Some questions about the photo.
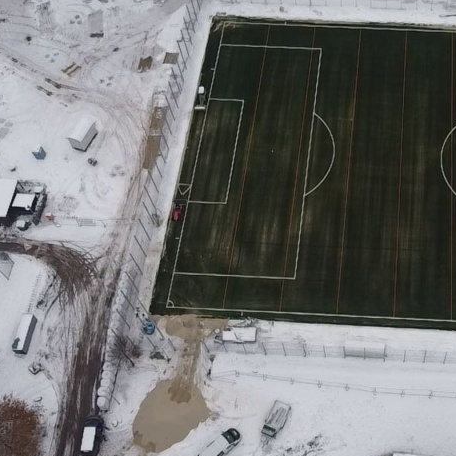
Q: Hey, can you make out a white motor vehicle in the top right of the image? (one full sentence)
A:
No, the scene shows no white motor vehicle in the top right of the image.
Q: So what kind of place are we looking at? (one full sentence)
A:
This image shows a sports ground.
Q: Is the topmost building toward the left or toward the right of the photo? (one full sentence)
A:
You can find the topmost building on the left side of the picture.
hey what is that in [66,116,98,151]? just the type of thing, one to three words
building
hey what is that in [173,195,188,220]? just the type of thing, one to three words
work vehicle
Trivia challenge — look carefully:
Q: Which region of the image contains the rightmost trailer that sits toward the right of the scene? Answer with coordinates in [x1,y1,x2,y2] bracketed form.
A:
[260,399,292,449]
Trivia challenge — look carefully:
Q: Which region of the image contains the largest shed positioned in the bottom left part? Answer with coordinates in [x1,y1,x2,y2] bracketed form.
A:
[14,314,38,354]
